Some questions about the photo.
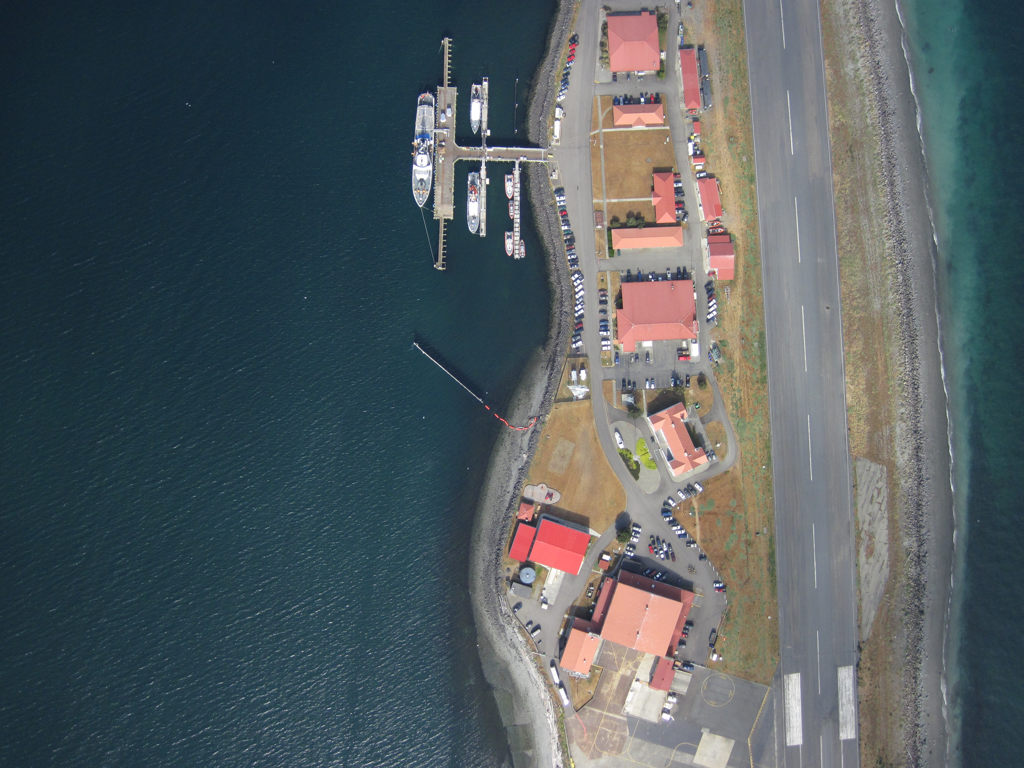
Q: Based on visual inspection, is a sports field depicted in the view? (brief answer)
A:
Yes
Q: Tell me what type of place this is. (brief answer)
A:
port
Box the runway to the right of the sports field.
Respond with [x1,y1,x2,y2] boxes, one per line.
[742,0,861,768]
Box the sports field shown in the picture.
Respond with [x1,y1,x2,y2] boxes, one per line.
[527,400,626,532]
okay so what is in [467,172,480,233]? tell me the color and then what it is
white vessel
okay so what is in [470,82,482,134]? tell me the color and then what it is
white vessel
